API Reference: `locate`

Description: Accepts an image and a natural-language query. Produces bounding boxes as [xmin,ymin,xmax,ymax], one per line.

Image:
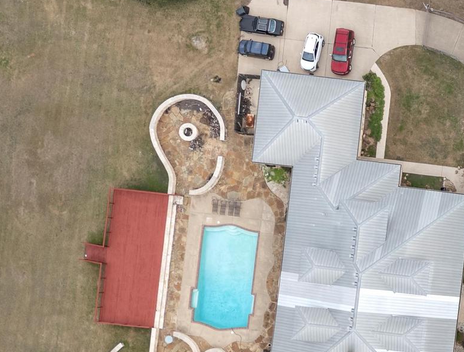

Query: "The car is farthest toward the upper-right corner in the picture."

[331,28,356,77]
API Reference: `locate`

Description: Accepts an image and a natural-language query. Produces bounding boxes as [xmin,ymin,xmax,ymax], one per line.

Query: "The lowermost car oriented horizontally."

[238,39,278,61]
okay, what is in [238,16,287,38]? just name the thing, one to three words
truck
